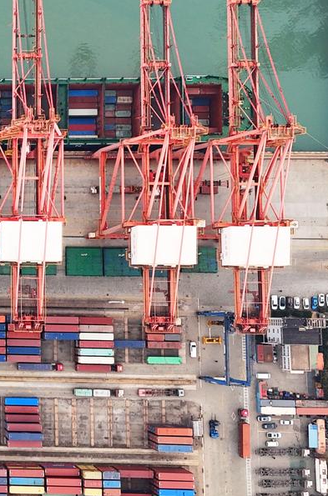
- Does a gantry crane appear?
Yes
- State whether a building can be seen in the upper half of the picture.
No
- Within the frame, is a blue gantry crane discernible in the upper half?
No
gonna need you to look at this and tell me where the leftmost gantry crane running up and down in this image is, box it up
[0,0,65,337]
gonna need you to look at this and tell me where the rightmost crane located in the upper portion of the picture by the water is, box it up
[169,0,319,339]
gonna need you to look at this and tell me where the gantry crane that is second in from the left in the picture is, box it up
[79,0,219,338]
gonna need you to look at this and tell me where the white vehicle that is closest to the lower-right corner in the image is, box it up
[313,458,327,496]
